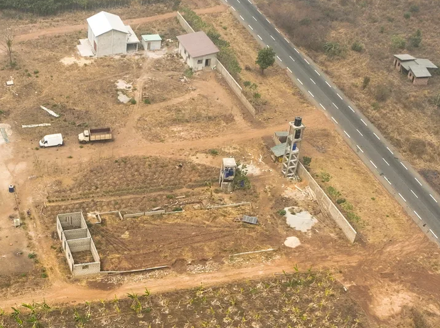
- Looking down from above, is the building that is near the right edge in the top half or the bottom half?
top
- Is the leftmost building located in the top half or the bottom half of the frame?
bottom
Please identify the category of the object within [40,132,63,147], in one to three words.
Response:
vehicle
